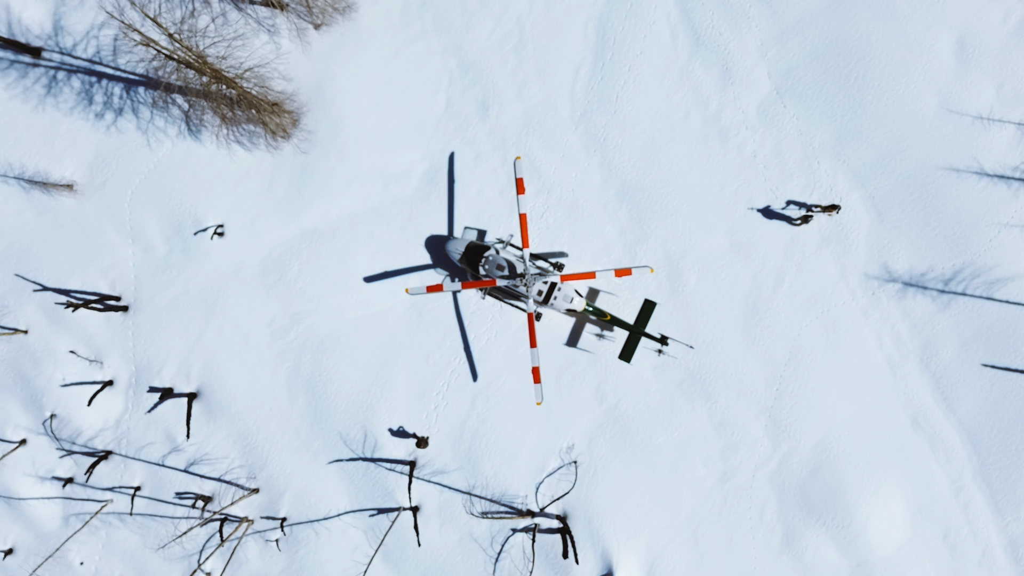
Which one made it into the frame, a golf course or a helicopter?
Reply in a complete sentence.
I can see a helicopter in this picture.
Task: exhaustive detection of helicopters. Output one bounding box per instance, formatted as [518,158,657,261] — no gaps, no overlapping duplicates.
[406,158,694,403]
